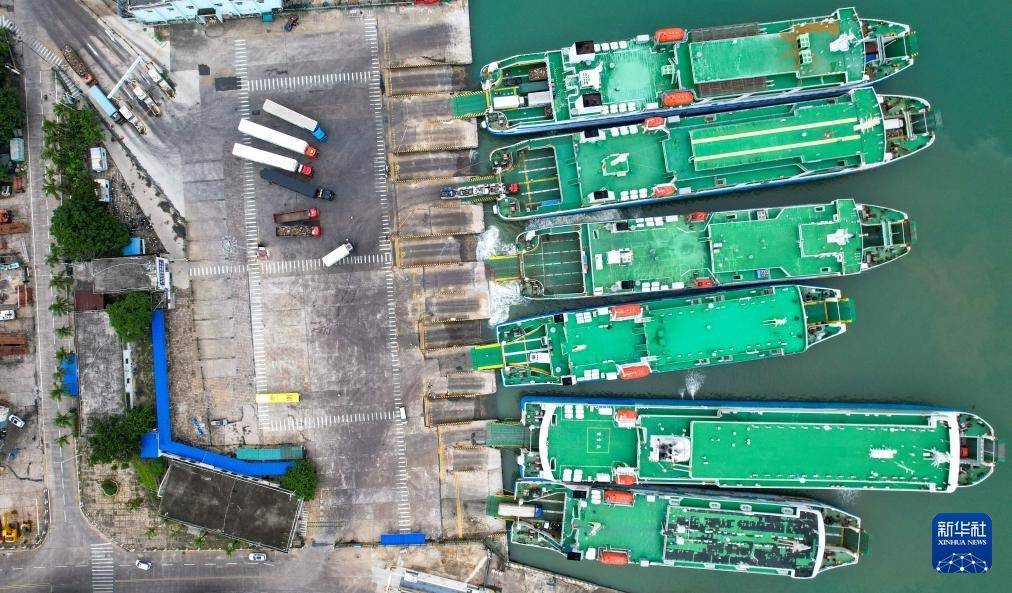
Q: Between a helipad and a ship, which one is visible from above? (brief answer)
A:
ship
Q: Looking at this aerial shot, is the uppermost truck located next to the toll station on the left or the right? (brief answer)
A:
left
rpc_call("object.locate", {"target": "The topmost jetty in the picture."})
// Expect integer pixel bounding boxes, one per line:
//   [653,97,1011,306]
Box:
[381,0,473,67]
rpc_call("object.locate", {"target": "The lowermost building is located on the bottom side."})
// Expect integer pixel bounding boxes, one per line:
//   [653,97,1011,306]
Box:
[399,562,468,593]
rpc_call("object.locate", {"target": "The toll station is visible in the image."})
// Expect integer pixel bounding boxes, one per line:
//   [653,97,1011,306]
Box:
[108,57,174,133]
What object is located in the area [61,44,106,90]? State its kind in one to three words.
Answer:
truck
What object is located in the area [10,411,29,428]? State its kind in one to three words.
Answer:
car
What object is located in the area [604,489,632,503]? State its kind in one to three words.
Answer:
boat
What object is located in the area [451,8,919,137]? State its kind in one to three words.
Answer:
ship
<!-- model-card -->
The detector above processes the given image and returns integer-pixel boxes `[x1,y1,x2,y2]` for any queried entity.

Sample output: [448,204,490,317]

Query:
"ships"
[451,8,919,137]
[486,395,1005,494]
[487,476,869,581]
[457,87,938,222]
[470,285,856,386]
[487,199,914,299]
